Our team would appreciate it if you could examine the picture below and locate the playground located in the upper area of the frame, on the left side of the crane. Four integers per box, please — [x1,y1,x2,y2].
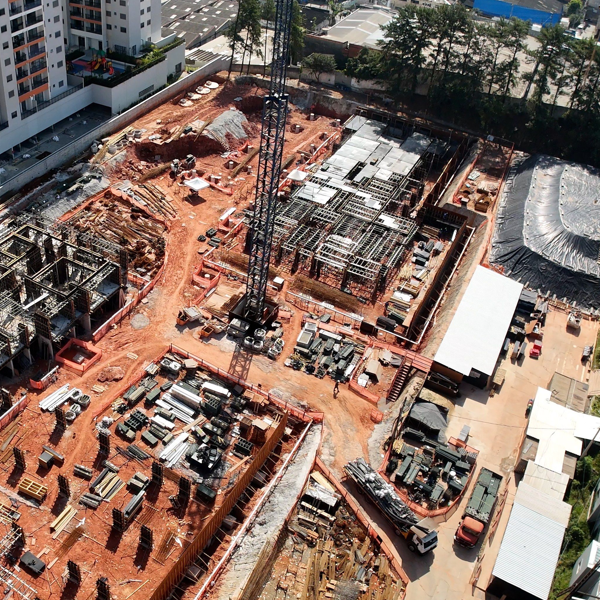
[67,39,132,79]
